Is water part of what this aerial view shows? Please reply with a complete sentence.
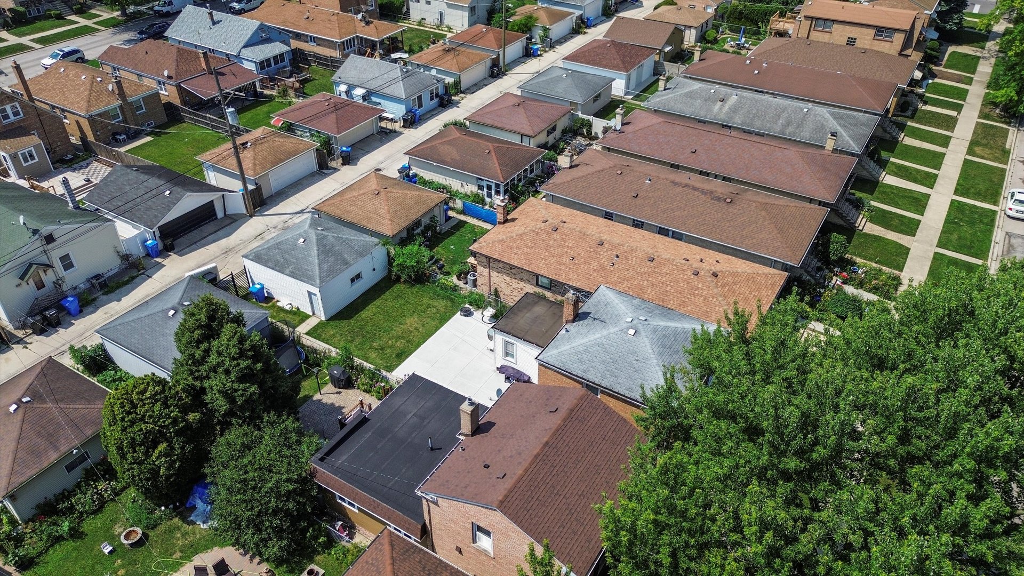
No, water can't be seen anywhere here.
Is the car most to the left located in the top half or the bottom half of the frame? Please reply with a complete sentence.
You can find the car most to the left in the top half.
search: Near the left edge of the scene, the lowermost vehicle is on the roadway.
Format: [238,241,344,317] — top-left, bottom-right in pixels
[42,45,89,70]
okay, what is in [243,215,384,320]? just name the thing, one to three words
building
